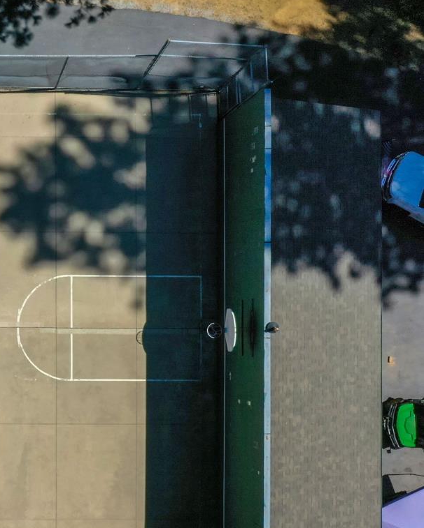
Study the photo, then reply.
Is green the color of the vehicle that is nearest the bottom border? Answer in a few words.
Yes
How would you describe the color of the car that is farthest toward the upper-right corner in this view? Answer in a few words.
blue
